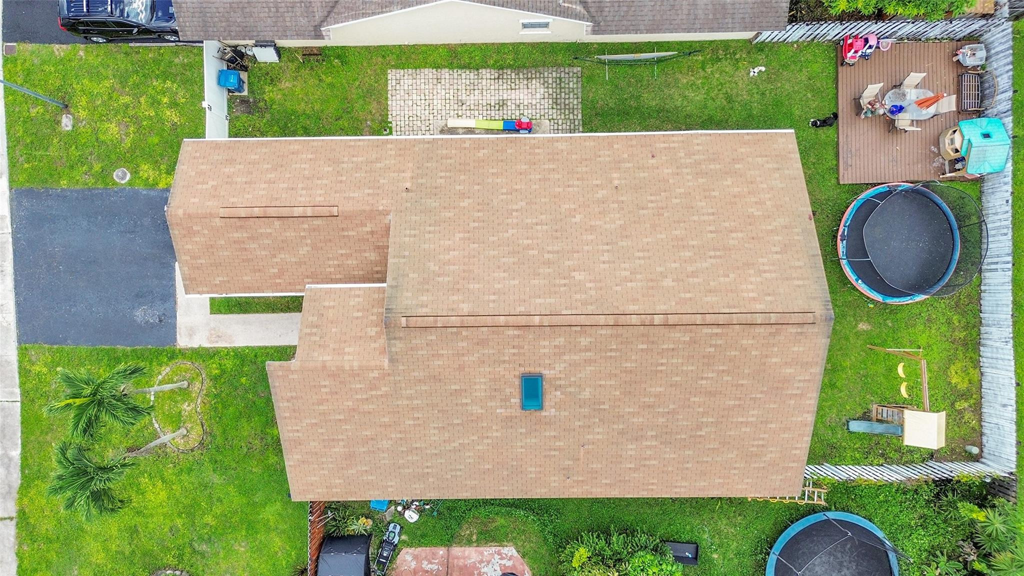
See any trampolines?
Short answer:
Yes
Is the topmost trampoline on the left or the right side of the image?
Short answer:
right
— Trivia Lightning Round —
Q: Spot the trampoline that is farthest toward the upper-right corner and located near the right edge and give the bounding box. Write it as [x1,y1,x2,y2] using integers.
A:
[827,177,990,305]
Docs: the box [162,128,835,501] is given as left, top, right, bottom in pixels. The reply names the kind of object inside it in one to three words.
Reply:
house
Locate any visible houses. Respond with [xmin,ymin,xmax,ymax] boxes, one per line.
[162,128,835,501]
[172,0,791,48]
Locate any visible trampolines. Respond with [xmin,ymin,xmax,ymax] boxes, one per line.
[758,504,915,576]
[827,177,990,305]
